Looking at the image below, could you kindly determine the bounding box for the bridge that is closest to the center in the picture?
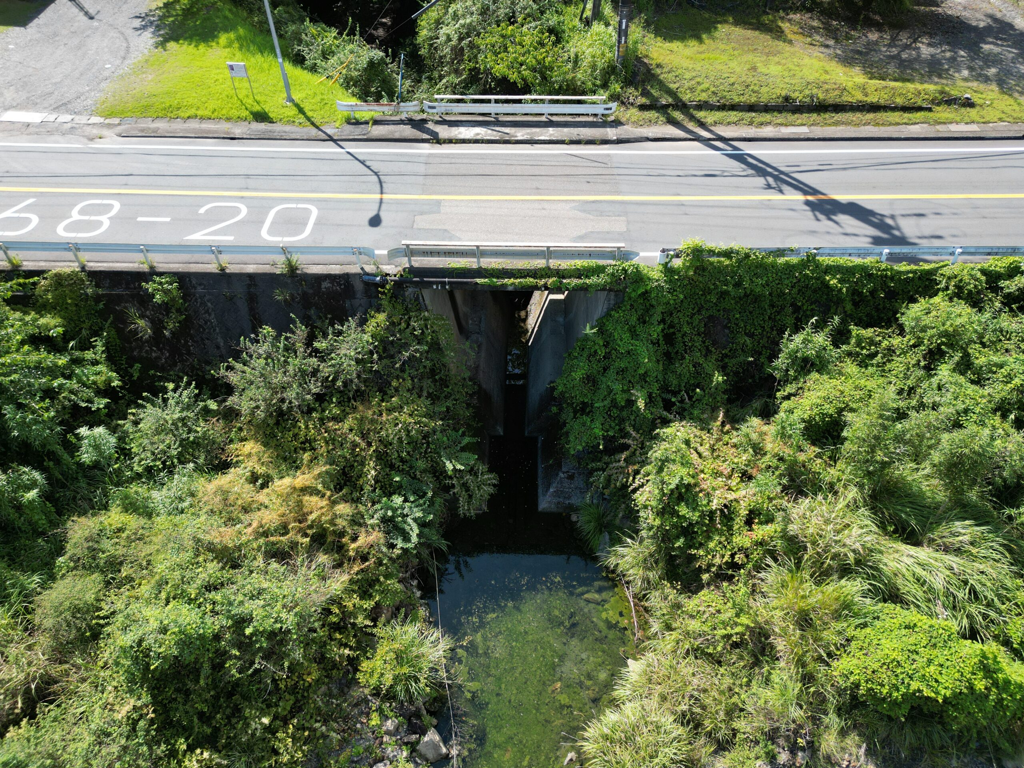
[407,260,625,522]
